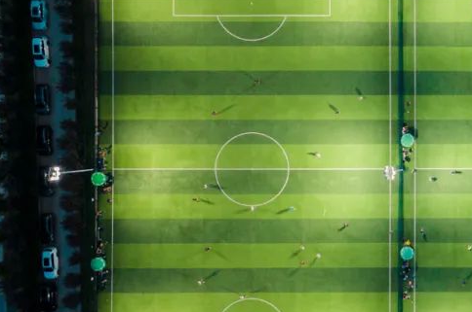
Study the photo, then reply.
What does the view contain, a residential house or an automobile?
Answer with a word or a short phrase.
automobile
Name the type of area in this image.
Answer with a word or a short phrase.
sports ground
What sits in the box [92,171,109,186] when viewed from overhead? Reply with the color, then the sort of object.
green umbrella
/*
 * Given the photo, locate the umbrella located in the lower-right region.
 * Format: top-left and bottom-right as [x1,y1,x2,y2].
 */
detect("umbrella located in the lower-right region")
[400,246,413,260]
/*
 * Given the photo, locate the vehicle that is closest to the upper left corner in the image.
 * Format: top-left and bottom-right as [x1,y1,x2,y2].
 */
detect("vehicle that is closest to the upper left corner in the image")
[30,0,48,30]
